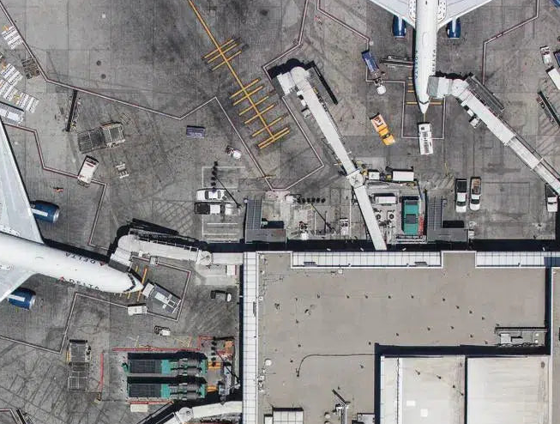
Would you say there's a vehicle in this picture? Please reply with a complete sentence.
Yes, there is a vehicle in the image.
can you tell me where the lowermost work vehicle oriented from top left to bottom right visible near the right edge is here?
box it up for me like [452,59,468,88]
[536,91,560,128]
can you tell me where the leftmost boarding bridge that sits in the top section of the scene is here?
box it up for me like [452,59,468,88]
[269,66,394,251]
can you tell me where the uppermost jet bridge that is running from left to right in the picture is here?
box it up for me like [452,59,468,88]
[106,224,243,272]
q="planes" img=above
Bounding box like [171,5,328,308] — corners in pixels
[0,124,144,308]
[368,0,494,114]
